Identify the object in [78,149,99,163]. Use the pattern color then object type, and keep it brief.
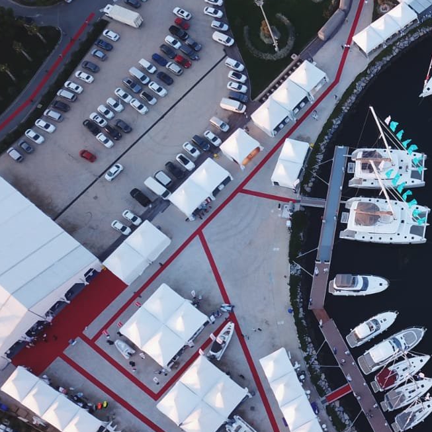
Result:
red car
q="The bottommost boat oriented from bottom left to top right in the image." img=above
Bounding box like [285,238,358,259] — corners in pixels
[382,396,432,431]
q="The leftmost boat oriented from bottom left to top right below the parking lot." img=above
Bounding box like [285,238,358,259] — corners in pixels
[207,322,235,360]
